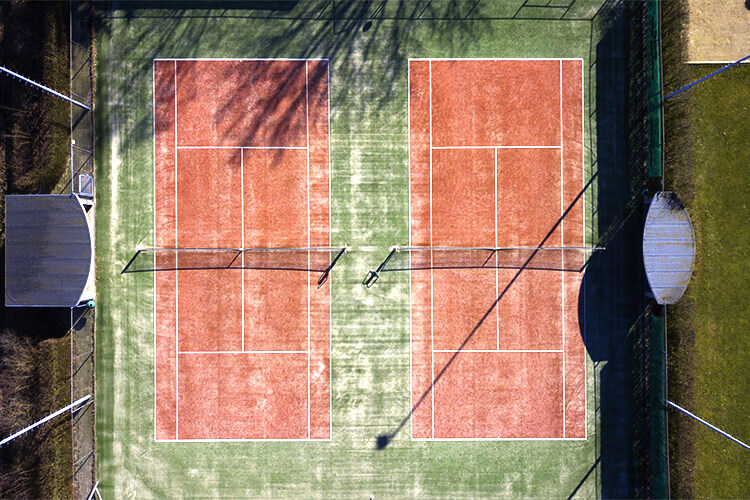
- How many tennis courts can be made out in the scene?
2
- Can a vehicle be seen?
No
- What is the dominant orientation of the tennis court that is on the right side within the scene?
vertically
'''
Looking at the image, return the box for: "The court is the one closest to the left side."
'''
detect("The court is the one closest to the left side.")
[153,59,332,442]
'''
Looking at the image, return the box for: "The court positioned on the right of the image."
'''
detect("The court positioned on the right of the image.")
[408,58,587,441]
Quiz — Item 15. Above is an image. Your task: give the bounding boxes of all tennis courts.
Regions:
[408,58,587,441]
[153,59,332,442]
